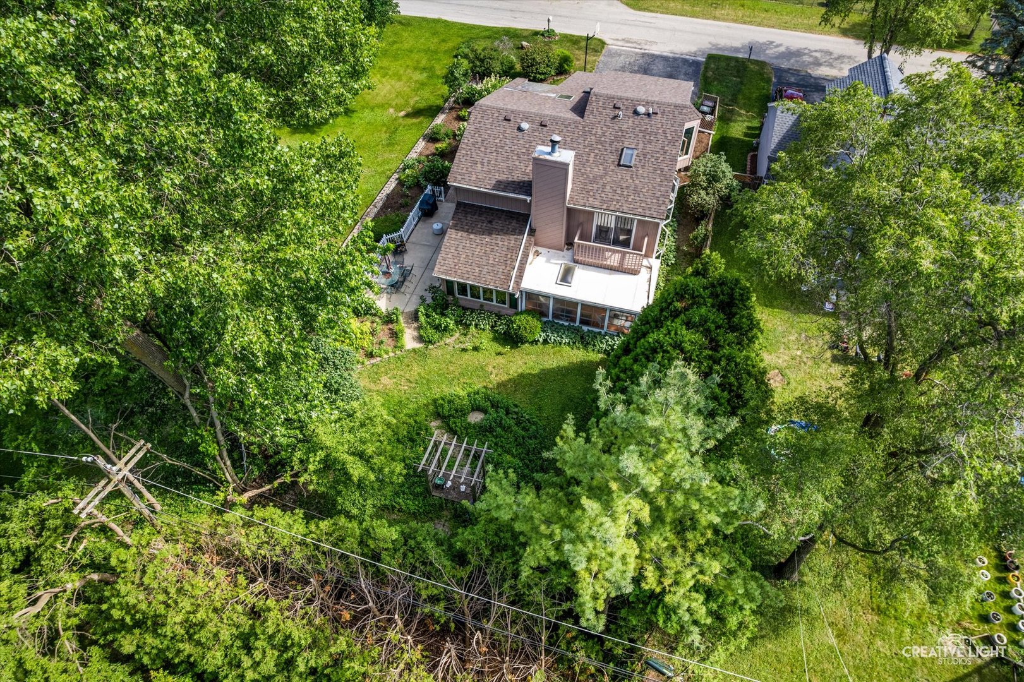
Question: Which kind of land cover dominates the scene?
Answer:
trees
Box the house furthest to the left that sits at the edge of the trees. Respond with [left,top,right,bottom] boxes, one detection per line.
[431,69,702,338]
